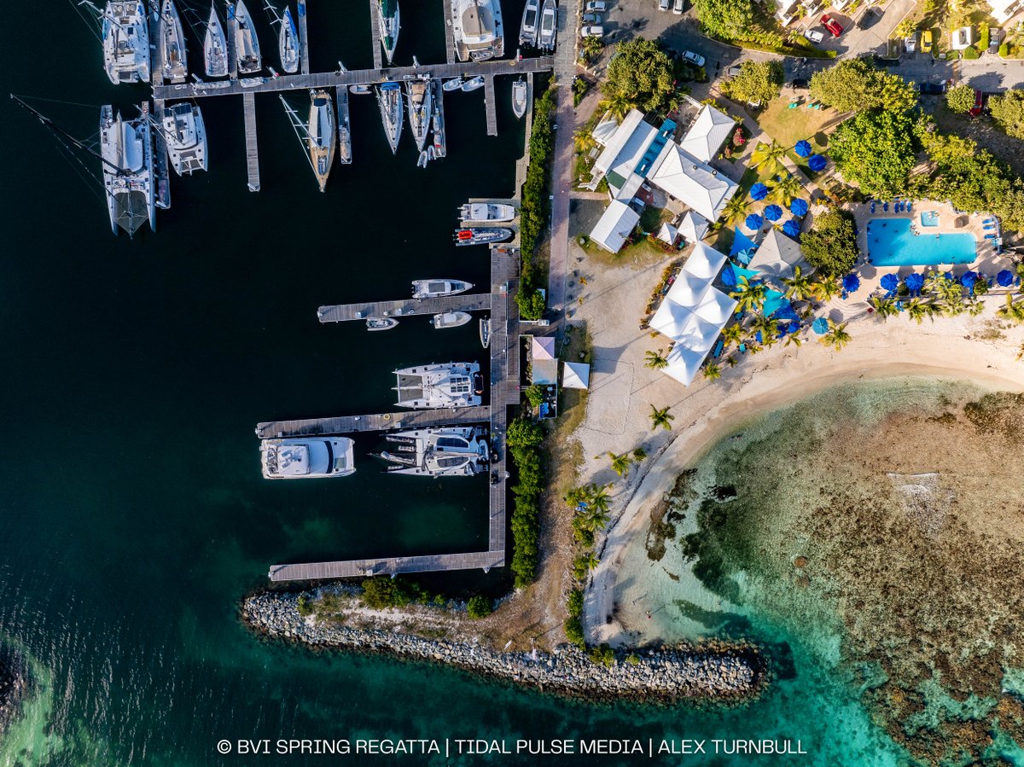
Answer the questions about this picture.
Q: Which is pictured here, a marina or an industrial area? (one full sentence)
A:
The picture captures a marina.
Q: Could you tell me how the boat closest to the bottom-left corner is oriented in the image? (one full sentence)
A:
The boat closest to the bottom-left corner has been laid out from side to side relative to the frame.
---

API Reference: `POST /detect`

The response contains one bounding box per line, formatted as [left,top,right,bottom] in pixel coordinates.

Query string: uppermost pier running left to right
[153,50,555,100]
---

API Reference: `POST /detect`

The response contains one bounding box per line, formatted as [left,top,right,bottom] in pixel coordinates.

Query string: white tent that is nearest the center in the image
[563,362,590,389]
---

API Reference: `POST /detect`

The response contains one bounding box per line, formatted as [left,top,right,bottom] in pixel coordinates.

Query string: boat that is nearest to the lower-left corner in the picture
[260,437,356,480]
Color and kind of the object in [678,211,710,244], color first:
white tent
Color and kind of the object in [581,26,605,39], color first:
white vehicle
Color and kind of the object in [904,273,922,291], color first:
blue umbrella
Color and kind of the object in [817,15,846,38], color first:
red truck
